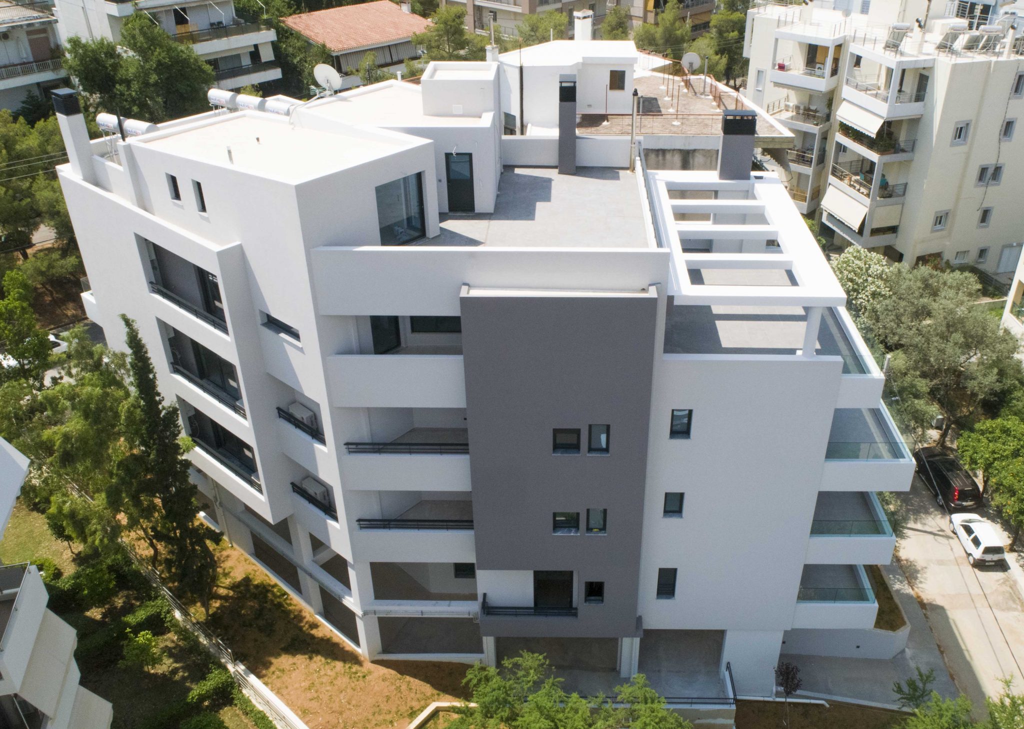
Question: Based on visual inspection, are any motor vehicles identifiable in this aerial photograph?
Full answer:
Yes, the frame does contain a motor vehicle.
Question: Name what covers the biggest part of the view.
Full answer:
The bulk of the photo consists of buildings.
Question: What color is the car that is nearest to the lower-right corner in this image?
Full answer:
The car that is nearest to the lower-right corner is white.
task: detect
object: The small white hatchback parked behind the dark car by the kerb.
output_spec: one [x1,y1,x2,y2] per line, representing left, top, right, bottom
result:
[944,515,1008,575]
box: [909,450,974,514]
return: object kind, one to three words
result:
car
